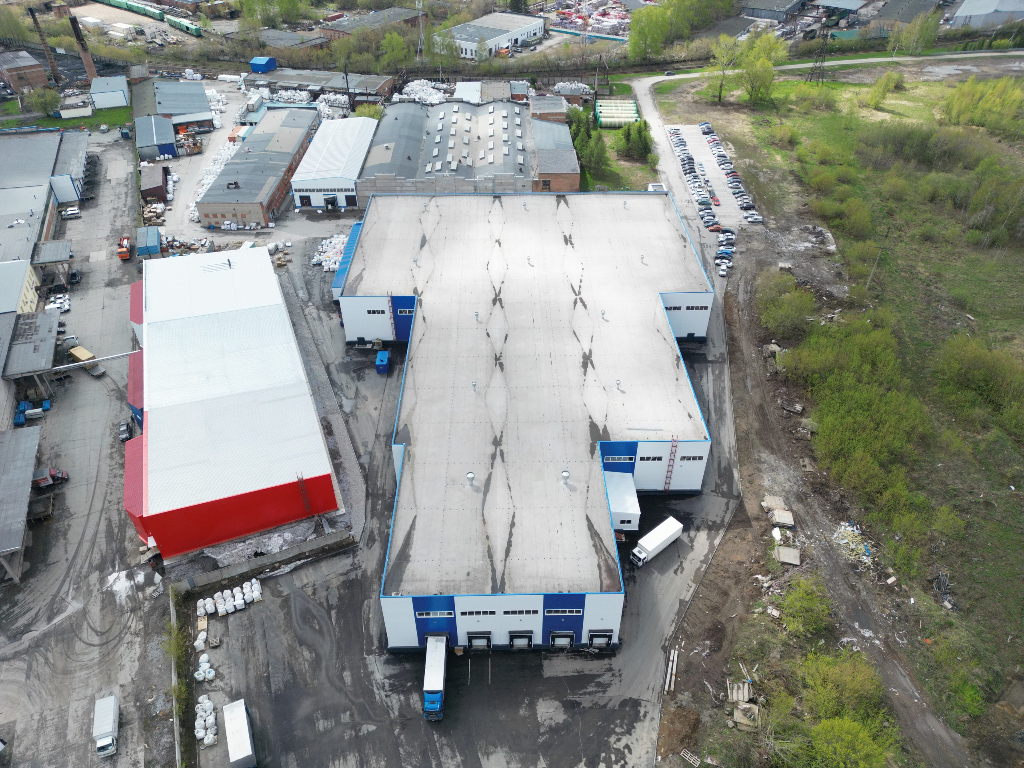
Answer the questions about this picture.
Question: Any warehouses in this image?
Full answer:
Yes, this view includes a warehouse.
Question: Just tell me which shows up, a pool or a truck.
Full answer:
Of the two, only a truck appears.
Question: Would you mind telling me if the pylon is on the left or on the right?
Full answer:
You can find the pylon on the right side of the picture.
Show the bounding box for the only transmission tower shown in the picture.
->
[809,25,830,84]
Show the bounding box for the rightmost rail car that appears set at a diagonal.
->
[825,11,851,29]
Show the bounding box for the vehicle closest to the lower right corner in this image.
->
[627,516,684,572]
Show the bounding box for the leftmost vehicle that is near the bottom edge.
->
[93,695,120,762]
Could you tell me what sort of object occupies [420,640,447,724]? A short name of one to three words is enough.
truck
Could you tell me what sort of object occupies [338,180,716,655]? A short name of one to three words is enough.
warehouse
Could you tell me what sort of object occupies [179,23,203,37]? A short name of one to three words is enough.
rail car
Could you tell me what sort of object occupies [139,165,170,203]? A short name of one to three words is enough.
shed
